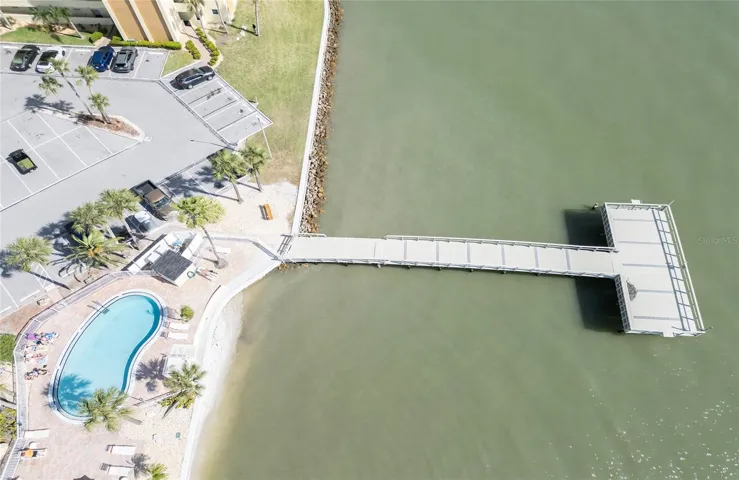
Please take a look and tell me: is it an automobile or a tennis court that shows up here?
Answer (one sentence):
The image shows an automobile.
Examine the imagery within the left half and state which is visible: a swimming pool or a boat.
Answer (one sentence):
There is a swimming pool within the left half.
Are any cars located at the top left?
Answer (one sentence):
Yes, the scene does show a car at the top left.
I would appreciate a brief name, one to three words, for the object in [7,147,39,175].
truck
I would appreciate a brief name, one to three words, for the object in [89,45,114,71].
car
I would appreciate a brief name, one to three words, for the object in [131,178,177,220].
truck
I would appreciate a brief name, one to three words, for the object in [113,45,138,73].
car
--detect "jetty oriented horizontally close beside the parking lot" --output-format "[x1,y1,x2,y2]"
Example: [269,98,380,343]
[279,205,711,339]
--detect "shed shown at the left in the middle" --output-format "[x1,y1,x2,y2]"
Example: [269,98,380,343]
[125,227,201,287]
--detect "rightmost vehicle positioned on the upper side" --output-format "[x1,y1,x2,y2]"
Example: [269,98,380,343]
[172,67,214,90]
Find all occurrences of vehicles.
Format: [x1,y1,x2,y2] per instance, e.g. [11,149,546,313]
[172,67,214,90]
[39,45,67,73]
[13,45,43,72]
[113,45,138,73]
[89,45,114,71]
[55,219,85,248]
[7,147,39,175]
[131,178,177,220]
[134,201,162,235]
